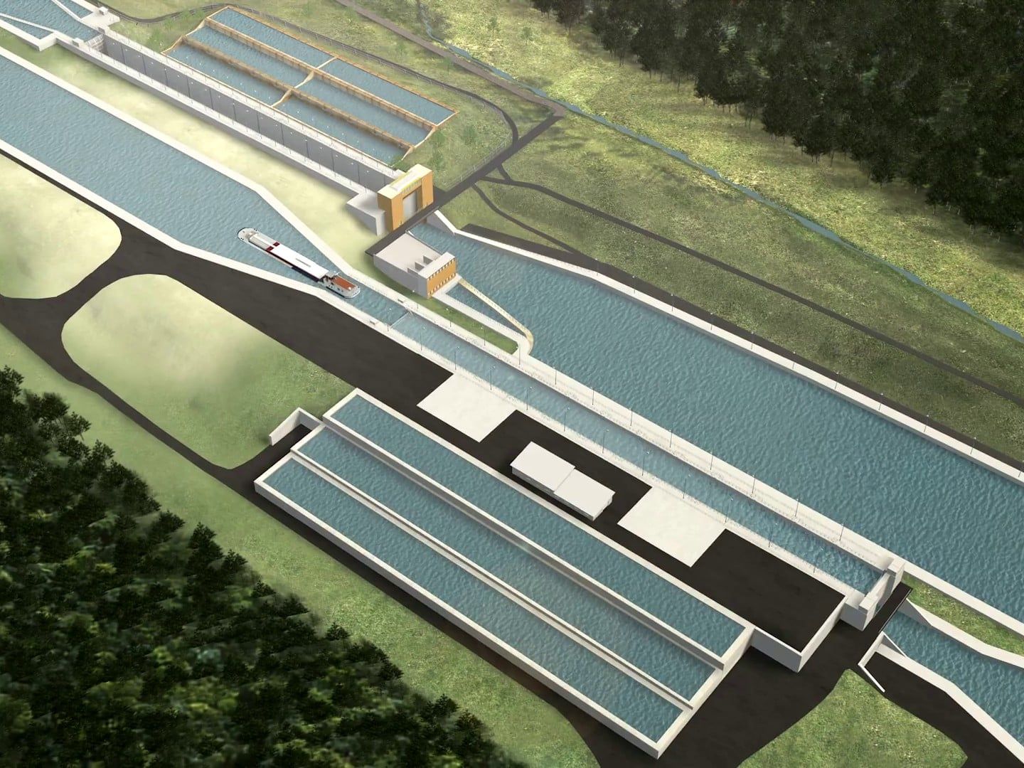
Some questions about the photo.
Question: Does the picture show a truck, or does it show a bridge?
bridge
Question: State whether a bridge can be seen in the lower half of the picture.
Yes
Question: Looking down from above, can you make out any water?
Yes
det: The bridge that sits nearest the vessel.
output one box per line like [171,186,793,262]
[365,201,445,263]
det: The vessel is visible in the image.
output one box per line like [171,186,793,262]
[239,229,360,302]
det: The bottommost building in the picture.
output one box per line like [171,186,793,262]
[508,441,616,519]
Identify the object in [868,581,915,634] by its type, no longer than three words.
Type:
bridge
